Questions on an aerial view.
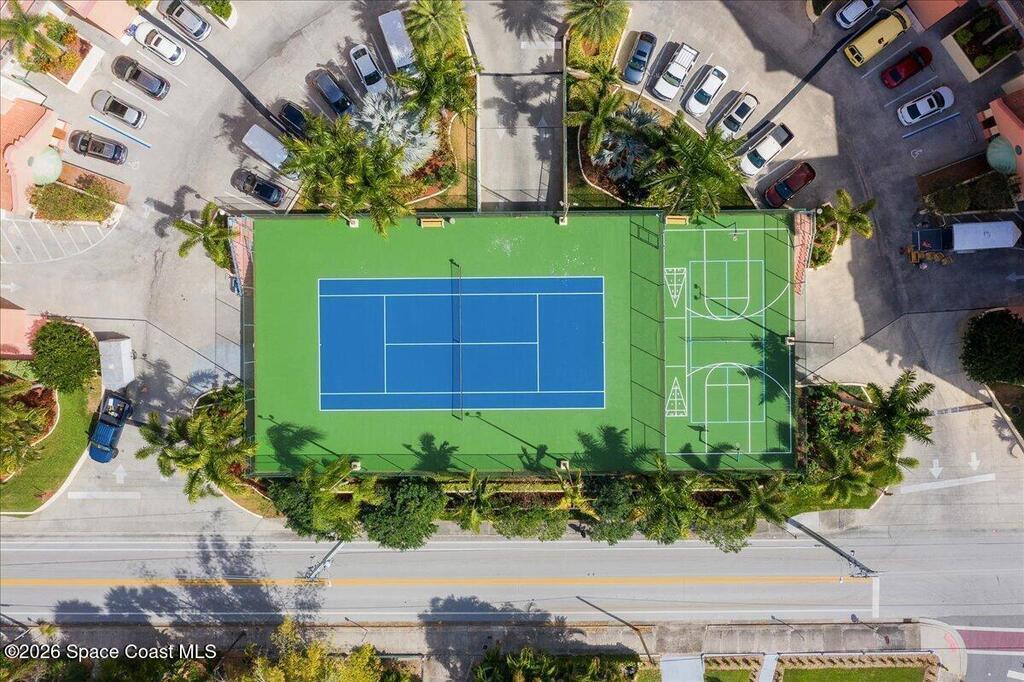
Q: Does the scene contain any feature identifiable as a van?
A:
Yes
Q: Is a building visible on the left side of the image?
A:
Yes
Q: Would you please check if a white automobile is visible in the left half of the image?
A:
Yes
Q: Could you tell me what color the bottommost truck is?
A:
blue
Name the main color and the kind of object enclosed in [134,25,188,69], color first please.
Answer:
white car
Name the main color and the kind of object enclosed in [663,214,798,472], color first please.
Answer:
green basketball court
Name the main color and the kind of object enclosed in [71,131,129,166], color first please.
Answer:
gray car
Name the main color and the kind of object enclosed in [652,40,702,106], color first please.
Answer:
white truck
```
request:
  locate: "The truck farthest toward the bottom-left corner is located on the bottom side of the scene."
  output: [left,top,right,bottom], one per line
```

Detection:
[91,392,135,463]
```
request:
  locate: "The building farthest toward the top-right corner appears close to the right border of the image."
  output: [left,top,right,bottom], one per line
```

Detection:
[962,81,1024,219]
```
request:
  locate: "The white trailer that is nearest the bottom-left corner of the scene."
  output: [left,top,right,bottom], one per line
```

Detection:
[99,341,138,395]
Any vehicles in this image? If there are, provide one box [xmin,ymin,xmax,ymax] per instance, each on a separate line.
[737,120,797,180]
[134,25,188,69]
[686,65,728,120]
[836,8,908,73]
[239,123,305,184]
[831,0,886,34]
[113,58,173,102]
[353,44,389,100]
[716,91,760,142]
[91,392,135,463]
[624,32,656,87]
[652,40,702,106]
[879,48,932,90]
[93,91,150,129]
[375,5,418,85]
[71,131,129,166]
[308,71,359,124]
[762,161,817,209]
[157,0,211,42]
[896,87,953,127]
[231,170,287,209]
